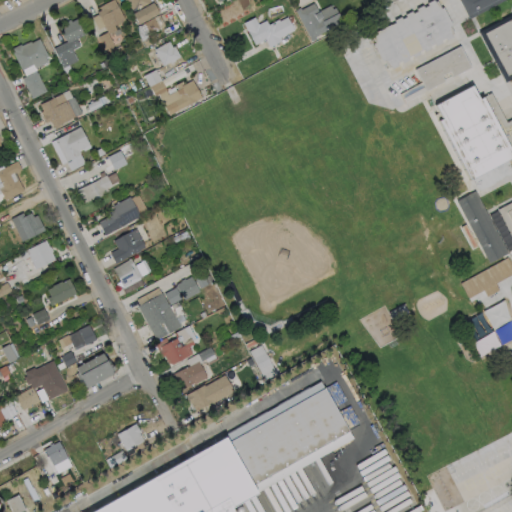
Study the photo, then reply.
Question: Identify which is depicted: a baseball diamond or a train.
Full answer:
There is a baseball diamond in the scene.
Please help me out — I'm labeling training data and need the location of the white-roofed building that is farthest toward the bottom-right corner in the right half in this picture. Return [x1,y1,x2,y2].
[476,332,502,356]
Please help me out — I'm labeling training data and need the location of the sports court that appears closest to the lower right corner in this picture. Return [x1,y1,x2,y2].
[424,431,512,512]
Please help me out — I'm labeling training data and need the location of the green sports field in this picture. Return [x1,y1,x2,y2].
[144,36,512,502]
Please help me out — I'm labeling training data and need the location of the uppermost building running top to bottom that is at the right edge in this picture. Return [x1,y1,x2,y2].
[481,12,512,78]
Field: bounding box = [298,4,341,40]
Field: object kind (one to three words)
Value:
house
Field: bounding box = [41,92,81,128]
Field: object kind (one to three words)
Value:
house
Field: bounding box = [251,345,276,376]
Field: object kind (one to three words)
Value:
building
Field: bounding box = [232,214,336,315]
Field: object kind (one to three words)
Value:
baseball field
